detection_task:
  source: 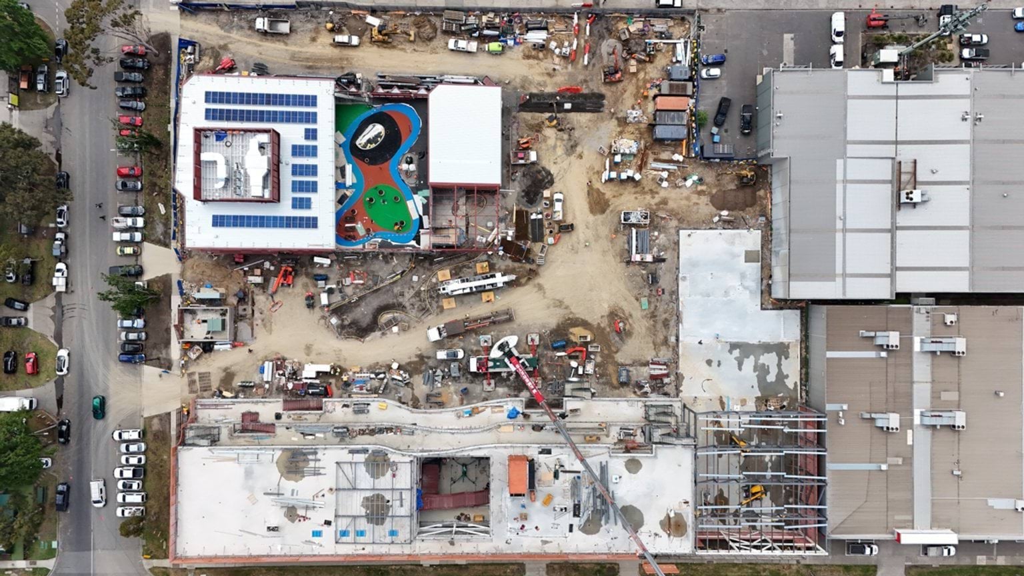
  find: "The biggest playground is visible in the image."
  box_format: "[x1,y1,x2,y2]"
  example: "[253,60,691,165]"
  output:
[332,99,435,254]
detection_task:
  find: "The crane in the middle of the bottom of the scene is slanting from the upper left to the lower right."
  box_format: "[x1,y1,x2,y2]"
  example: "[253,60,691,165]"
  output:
[469,335,663,576]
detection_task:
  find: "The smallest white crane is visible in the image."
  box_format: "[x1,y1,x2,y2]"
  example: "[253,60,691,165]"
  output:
[438,269,517,297]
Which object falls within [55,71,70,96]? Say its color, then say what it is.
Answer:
gray car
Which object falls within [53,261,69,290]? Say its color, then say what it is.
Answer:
white vehicle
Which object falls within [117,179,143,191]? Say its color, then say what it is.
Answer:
gray vehicle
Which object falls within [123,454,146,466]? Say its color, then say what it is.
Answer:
white vehicle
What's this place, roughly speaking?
industrial area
